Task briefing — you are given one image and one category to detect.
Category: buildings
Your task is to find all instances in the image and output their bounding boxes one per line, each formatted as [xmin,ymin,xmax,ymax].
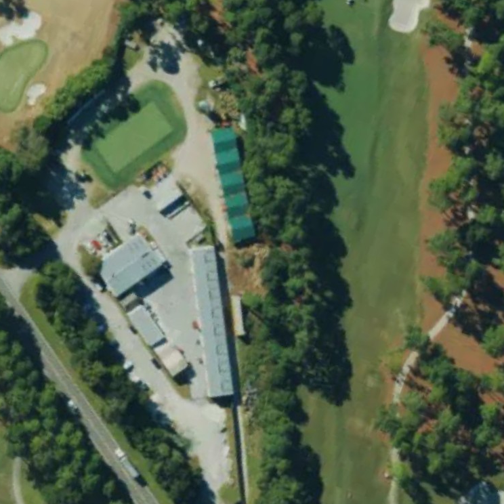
[100,234,166,298]
[152,345,187,376]
[126,305,165,346]
[210,128,255,241]
[188,247,233,397]
[150,178,183,212]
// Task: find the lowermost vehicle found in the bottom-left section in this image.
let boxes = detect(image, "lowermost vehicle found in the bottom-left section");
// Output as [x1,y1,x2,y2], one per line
[116,447,141,480]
